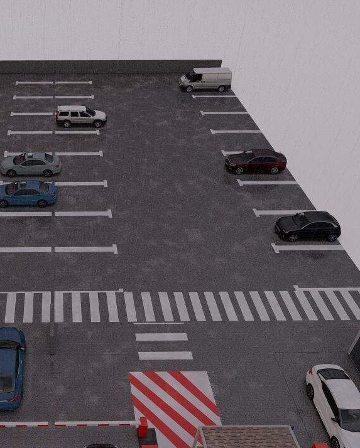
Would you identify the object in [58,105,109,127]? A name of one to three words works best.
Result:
car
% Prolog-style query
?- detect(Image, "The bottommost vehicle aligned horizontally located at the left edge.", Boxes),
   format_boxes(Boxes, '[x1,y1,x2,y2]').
[0,180,58,207]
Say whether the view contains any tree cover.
No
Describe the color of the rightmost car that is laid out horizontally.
black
